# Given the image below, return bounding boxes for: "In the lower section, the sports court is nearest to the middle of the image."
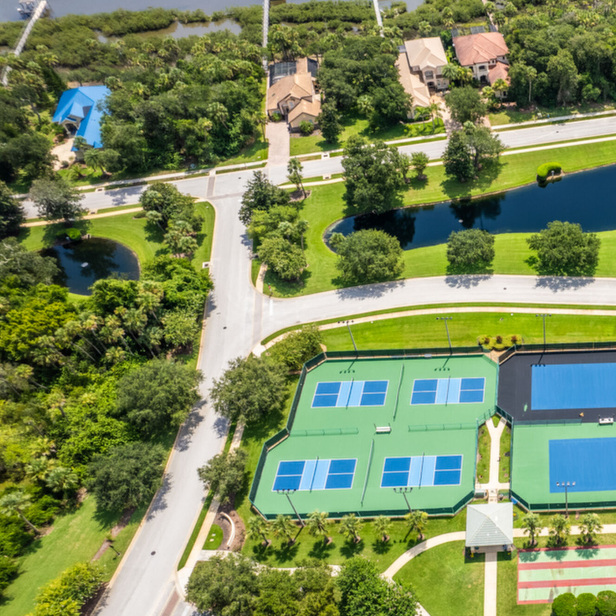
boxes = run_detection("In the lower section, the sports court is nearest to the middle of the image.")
[311,377,389,408]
